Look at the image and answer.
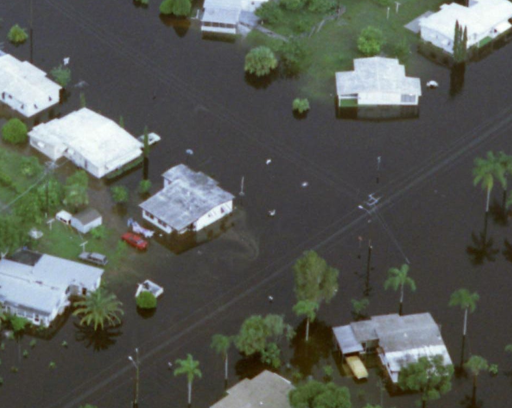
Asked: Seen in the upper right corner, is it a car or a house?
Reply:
house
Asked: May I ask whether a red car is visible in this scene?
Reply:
Yes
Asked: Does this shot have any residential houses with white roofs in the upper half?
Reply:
Yes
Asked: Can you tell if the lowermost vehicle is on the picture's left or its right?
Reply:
right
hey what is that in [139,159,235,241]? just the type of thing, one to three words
house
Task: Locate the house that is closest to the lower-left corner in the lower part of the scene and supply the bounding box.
[0,246,103,329]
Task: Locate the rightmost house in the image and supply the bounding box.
[421,0,512,57]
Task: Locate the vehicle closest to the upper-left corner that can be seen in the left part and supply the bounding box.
[133,130,167,149]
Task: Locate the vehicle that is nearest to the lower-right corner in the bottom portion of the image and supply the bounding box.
[342,351,369,383]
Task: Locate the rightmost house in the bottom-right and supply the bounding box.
[330,310,457,399]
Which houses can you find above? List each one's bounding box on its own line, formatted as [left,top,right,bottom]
[421,0,512,57]
[0,55,62,121]
[139,159,235,241]
[335,55,421,109]
[210,366,304,408]
[201,0,266,37]
[0,246,103,329]
[29,107,141,180]
[330,310,457,399]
